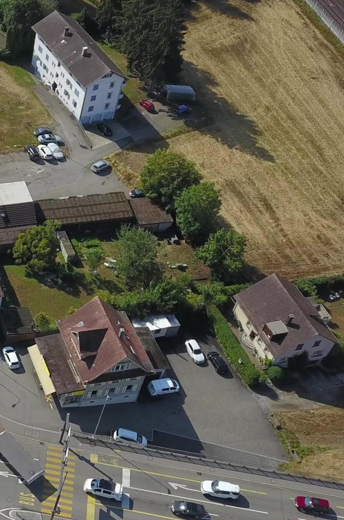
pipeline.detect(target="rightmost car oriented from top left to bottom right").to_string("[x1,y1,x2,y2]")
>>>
[205,350,228,377]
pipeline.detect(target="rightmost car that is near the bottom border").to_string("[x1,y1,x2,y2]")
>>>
[293,494,332,516]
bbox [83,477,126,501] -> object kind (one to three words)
truck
